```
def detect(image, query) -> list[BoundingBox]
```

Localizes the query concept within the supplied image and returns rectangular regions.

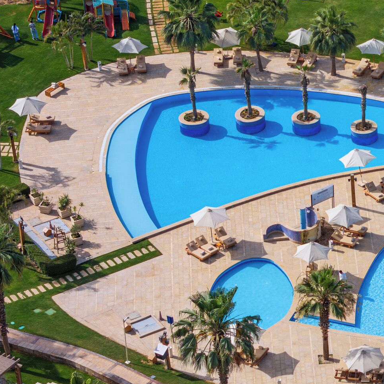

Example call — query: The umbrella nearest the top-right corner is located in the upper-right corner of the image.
[355,36,384,70]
